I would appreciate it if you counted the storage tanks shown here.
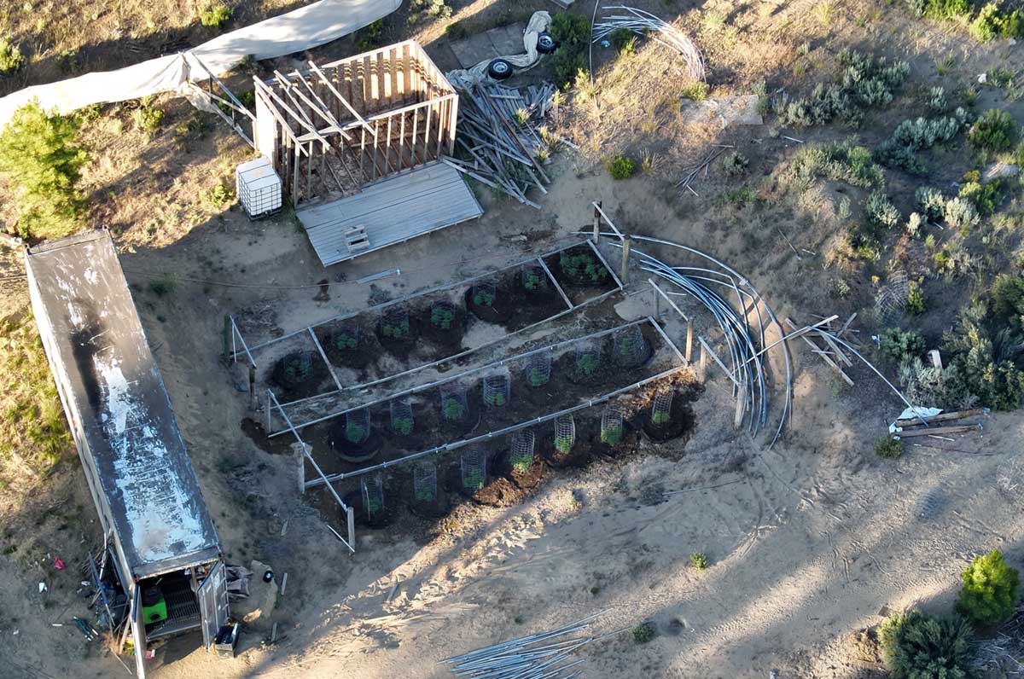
1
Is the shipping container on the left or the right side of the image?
left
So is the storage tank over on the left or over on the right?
left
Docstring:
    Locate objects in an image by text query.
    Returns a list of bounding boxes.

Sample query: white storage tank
[235,158,283,221]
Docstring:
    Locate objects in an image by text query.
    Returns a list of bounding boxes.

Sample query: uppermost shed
[253,40,458,209]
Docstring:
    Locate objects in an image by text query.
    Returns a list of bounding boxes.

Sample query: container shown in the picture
[24,226,229,679]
